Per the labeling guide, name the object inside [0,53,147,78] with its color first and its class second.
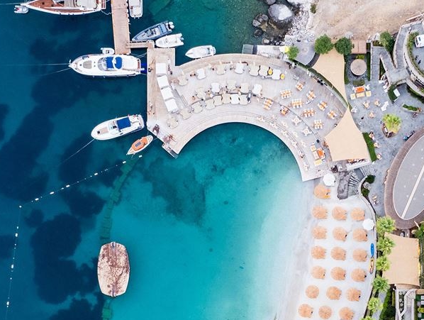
white boat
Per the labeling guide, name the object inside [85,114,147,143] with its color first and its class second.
white boat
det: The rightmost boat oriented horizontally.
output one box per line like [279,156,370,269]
[186,44,216,58]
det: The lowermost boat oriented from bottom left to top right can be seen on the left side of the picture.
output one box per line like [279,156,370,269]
[128,137,153,154]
